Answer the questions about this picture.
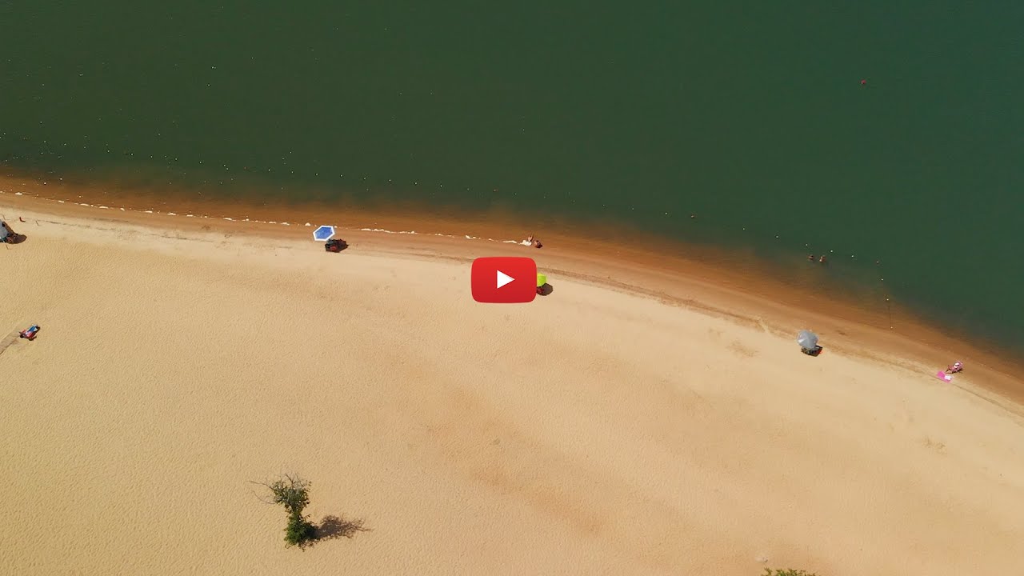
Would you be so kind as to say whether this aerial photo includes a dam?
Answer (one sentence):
No, the scene contains no dam.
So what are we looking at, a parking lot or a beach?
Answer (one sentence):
The area seen from above is a beach.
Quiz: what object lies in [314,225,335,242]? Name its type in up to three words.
umbrella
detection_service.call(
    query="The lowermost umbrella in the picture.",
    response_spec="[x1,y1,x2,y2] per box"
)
[796,330,818,348]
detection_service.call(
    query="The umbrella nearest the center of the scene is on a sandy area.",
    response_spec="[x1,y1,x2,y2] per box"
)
[530,274,545,287]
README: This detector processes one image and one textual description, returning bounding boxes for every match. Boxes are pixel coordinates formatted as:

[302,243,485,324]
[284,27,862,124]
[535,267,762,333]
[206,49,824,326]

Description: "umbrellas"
[314,225,335,242]
[0,219,11,245]
[796,330,818,348]
[530,274,545,287]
